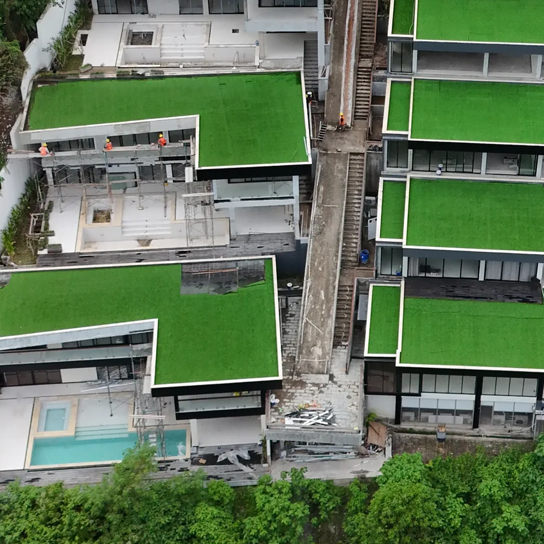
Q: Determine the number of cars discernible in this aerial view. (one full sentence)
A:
No cars are visible.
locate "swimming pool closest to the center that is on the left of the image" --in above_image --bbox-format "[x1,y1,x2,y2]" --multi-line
[77,192,230,251]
